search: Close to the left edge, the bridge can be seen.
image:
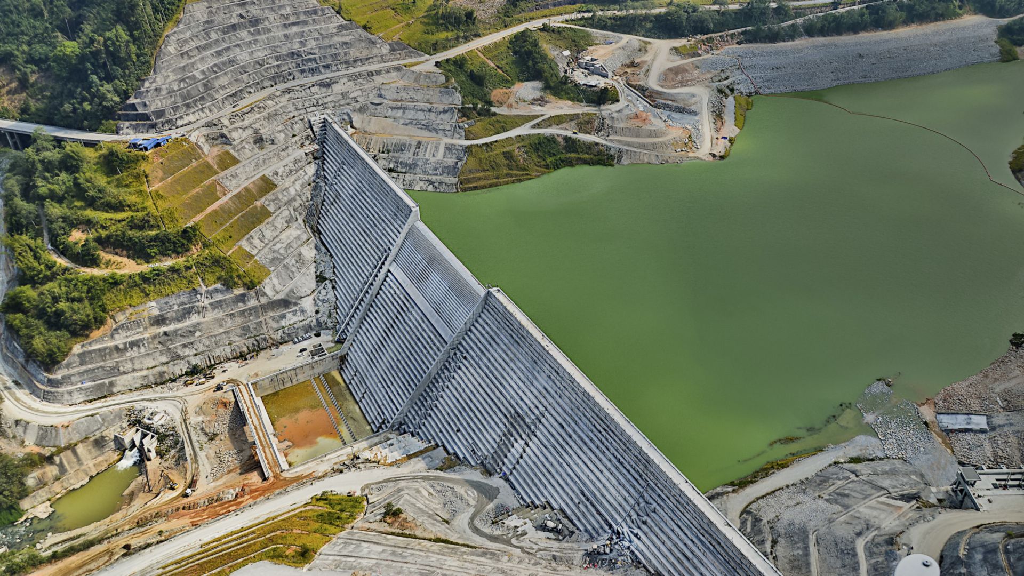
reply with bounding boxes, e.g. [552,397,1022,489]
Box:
[0,119,125,190]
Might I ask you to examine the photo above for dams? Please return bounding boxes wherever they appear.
[316,114,784,576]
